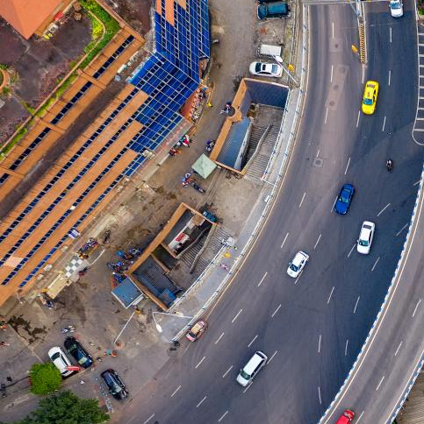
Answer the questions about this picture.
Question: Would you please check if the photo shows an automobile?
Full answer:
Yes, there's an automobile down there.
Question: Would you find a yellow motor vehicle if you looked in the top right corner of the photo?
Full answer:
Yes, I can see a yellow motor vehicle in the top right corner of the photo.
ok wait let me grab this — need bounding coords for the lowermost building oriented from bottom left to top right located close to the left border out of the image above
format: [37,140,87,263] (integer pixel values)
[0,85,147,320]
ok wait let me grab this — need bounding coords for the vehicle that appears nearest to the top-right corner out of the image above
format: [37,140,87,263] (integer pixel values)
[389,0,406,21]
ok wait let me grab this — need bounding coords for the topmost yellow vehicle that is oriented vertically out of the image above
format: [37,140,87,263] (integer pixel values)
[362,80,379,116]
